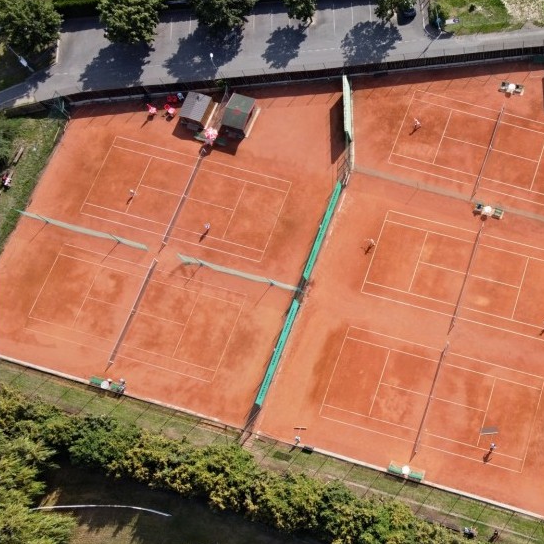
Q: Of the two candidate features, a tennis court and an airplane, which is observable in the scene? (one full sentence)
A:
Looking from above, you can make out a tennis court.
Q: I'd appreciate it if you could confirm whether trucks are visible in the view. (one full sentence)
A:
No, the photo shows no truck.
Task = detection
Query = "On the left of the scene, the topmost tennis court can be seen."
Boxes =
[64,124,307,275]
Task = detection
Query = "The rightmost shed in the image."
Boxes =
[222,93,259,136]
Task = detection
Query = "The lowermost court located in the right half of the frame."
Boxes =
[302,312,544,489]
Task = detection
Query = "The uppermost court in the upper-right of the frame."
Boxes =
[372,77,544,216]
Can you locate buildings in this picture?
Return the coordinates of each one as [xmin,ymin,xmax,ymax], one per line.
[222,93,259,136]
[179,92,216,128]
